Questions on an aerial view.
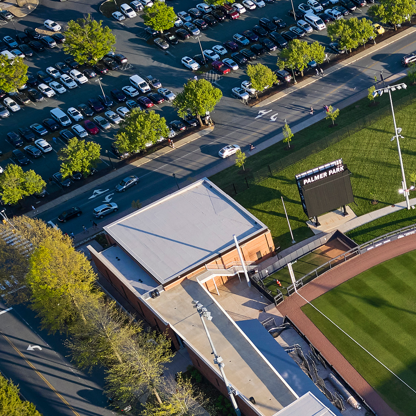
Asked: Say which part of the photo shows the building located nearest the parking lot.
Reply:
center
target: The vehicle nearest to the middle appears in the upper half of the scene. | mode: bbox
[216,140,241,157]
